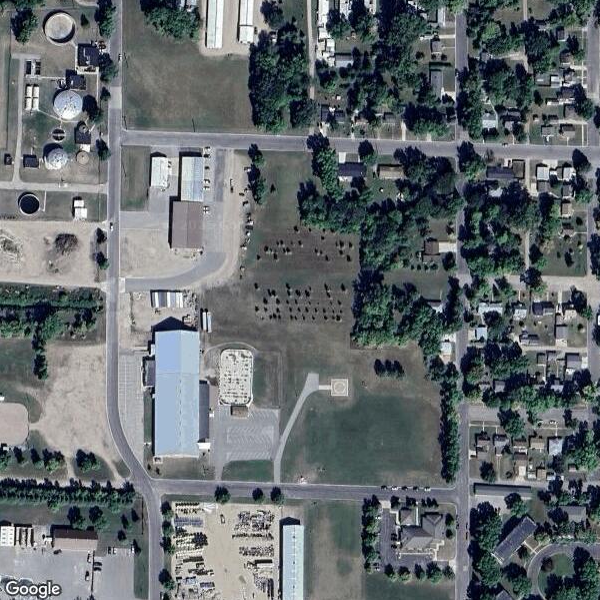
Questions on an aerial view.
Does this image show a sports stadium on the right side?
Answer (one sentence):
No, on the right side there is no sports stadium.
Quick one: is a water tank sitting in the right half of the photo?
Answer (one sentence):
No, I can find no water tank in the right half of the photo.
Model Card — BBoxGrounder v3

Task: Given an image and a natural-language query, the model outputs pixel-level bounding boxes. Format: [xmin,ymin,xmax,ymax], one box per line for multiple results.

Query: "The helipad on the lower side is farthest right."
[331,379,349,397]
